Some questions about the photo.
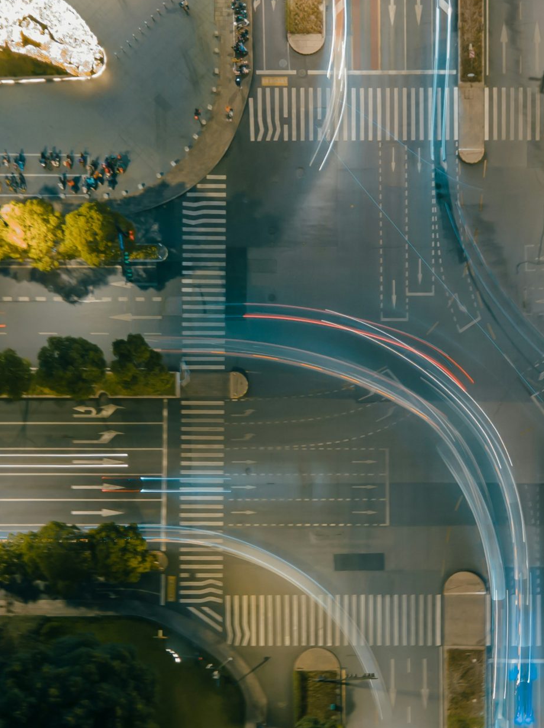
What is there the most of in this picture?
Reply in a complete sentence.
Most of the picture is covered by paved ground.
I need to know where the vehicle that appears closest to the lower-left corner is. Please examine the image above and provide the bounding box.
[163,528,206,548]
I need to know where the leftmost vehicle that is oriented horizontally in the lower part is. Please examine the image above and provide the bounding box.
[84,451,129,471]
